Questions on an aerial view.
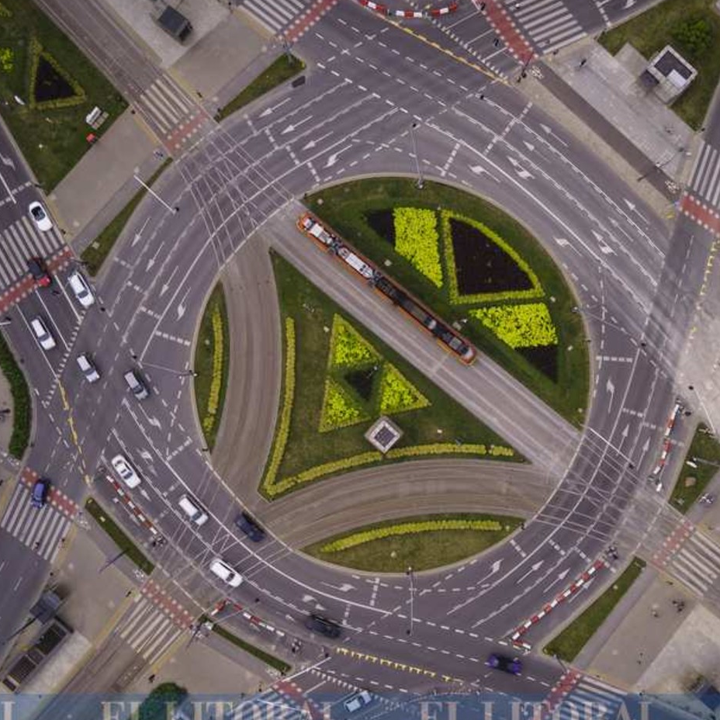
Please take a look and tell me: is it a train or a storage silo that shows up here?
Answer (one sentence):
The image shows a train.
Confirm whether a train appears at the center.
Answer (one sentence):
Yes, you'll find a train at the center.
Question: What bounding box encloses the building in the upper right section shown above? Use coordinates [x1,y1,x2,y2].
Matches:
[637,45,699,108]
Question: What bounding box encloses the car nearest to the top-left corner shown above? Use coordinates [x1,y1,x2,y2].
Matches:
[26,197,52,234]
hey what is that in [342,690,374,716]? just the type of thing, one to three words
car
